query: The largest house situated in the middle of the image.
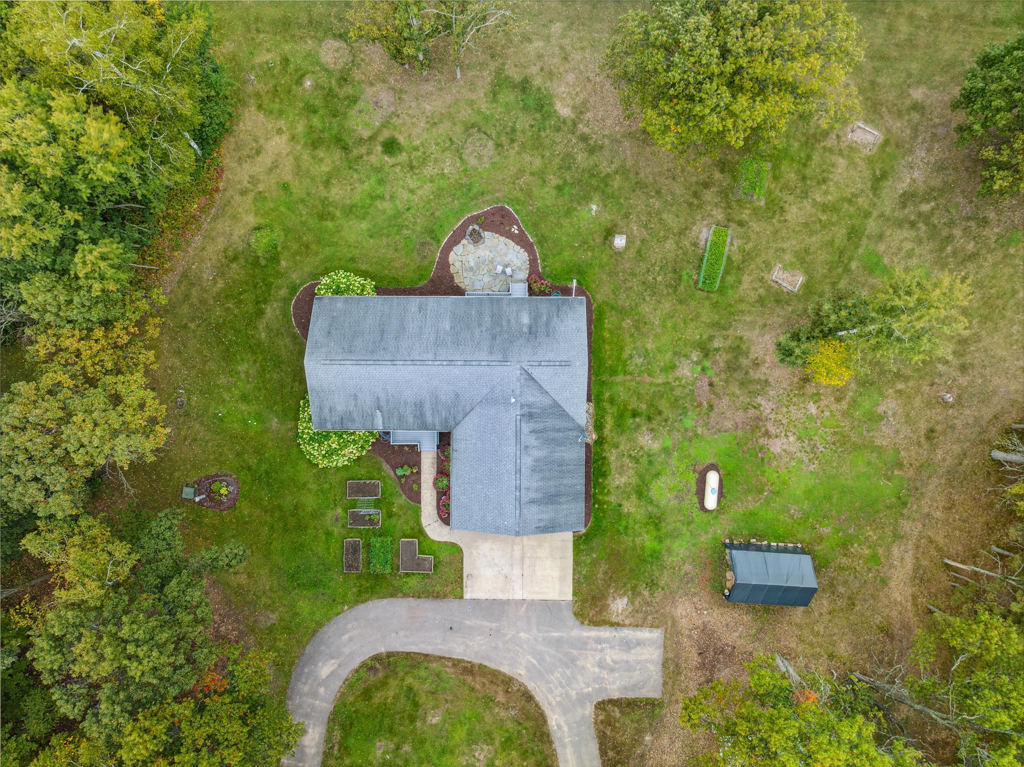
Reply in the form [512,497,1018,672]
[304,294,589,537]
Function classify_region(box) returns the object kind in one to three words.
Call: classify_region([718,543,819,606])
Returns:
shed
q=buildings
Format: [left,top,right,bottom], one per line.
[304,294,589,537]
[718,543,819,606]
